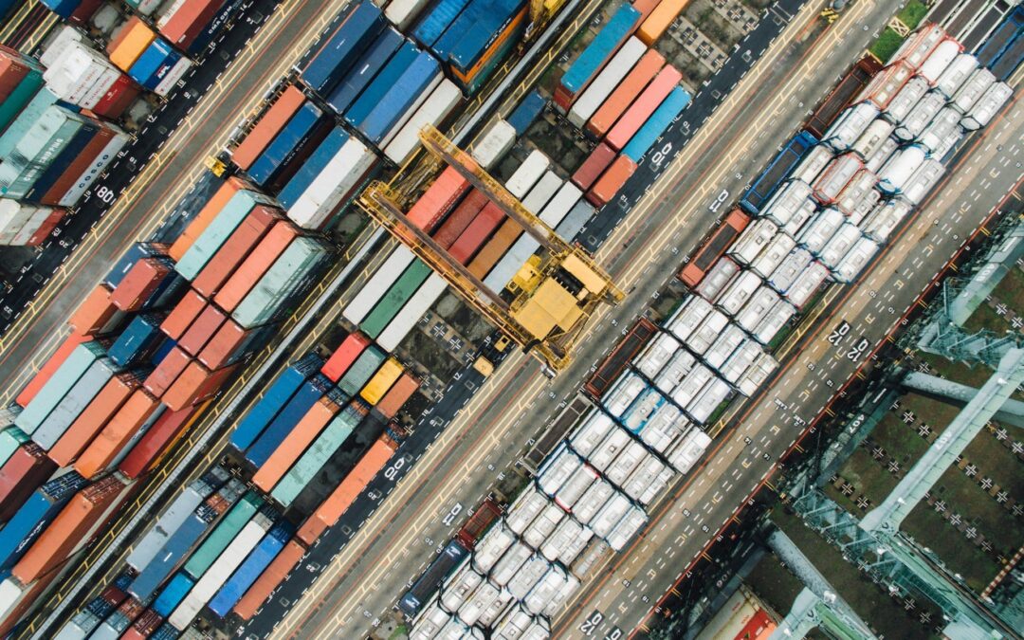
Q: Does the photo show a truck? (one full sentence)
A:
Yes, I can see a truck in this picture.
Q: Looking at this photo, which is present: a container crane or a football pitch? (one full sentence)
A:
I can see a container crane in this picture.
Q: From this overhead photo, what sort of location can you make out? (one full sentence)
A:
This image shows an industrial area.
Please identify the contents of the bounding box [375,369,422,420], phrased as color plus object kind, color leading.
red shipping container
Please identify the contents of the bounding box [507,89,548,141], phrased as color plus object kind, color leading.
blue shipping container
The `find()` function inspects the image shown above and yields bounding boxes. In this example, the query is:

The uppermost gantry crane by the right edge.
[899,197,1024,396]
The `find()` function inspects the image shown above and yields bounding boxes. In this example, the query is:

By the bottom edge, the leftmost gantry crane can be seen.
[656,486,891,640]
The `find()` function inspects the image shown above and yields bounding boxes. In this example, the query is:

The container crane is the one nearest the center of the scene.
[348,111,630,376]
